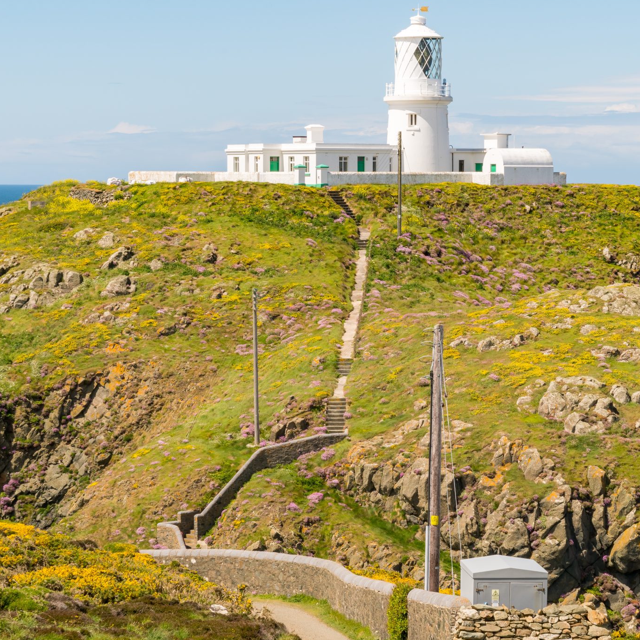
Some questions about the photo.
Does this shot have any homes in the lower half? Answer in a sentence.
No, no home appears in the lower half.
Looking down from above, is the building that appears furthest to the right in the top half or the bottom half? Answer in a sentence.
It is in the top half that the building that appears furthest to the right appears.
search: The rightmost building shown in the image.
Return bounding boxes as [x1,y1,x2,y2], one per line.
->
[484,145,556,185]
